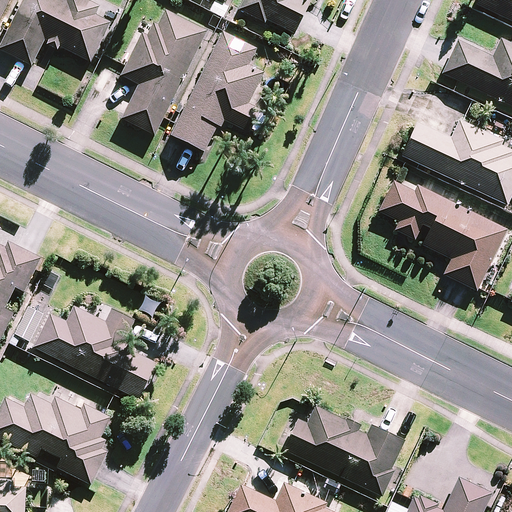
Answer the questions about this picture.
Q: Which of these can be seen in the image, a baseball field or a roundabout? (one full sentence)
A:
It is a roundabout that can be seen here.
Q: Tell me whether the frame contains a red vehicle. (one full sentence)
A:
No, I can't see a single red vehicle in this photo.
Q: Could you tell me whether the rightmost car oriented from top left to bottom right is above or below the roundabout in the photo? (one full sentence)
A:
The rightmost car oriented from top left to bottom right appears below the roundabout in the picture.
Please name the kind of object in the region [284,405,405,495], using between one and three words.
house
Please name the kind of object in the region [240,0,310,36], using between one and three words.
house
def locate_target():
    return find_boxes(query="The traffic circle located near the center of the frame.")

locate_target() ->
[174,186,370,372]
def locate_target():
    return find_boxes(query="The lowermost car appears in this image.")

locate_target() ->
[258,470,278,494]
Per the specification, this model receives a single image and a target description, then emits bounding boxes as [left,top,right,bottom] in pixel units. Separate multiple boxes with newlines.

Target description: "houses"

[30,306,158,398]
[240,0,310,36]
[0,392,111,484]
[401,120,512,205]
[0,0,110,64]
[379,180,508,291]
[119,8,208,136]
[442,38,512,104]
[228,482,328,512]
[170,30,264,152]
[0,240,43,344]
[0,486,26,512]
[284,405,405,495]
[404,476,493,512]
